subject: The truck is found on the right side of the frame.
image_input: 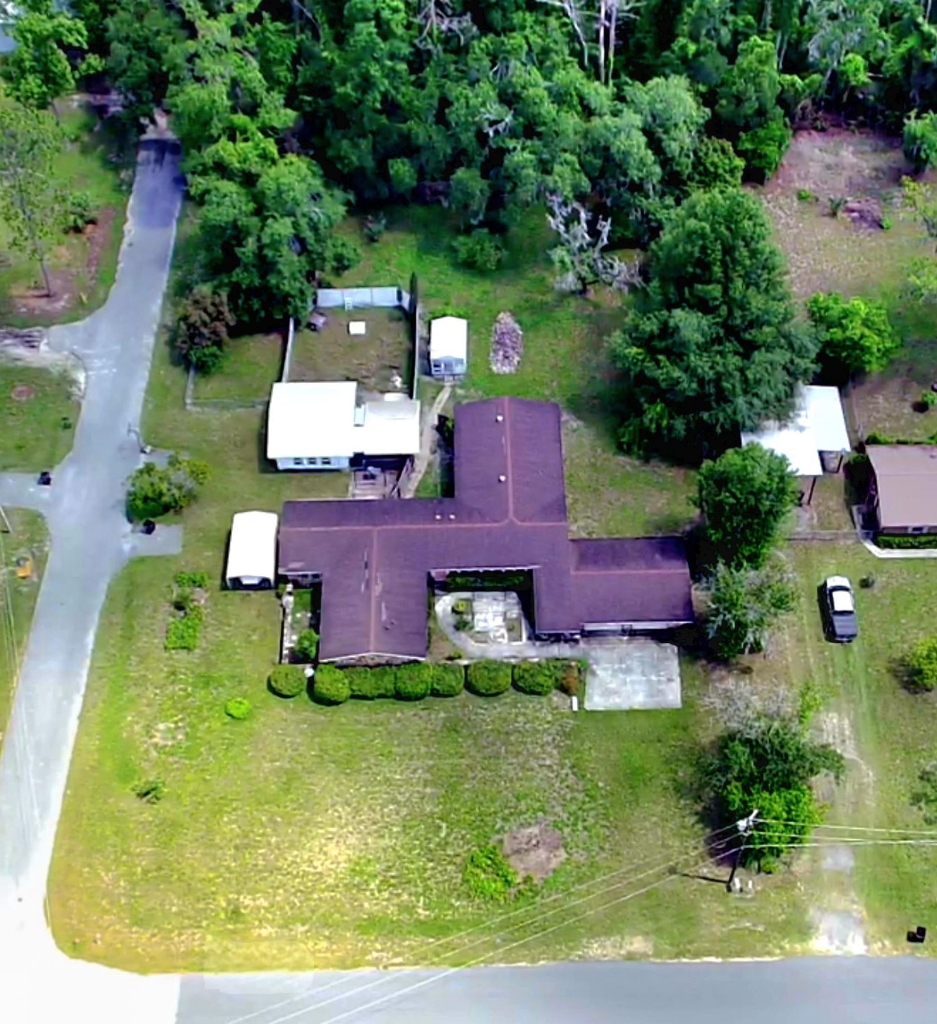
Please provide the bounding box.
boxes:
[827,581,864,652]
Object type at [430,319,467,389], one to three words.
shed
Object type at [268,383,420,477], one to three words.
shed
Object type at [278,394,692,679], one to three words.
house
